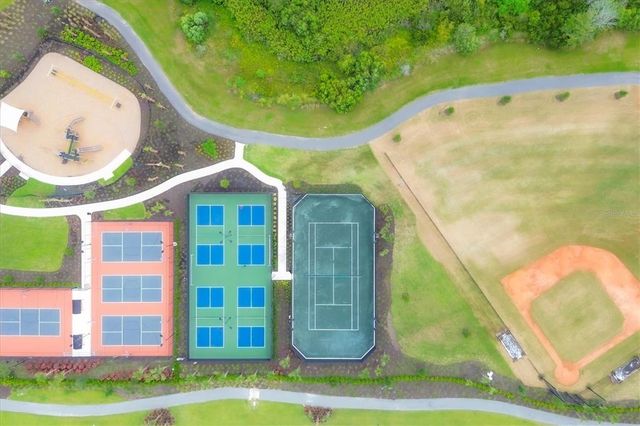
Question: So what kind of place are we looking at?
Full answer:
The area seen from above is a sports ground.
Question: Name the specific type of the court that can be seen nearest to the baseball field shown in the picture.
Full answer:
Specifically, the court that can be seen nearest to the baseball field is a tennis court.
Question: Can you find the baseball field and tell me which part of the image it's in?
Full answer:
You can find the baseball field in the right area of the picture.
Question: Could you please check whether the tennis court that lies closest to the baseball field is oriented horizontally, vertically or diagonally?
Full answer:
I'd say the tennis court that lies closest to the baseball field is aligned vertically in the picture.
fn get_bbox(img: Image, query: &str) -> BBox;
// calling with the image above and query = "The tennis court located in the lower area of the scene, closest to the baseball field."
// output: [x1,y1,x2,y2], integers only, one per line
[293,195,374,359]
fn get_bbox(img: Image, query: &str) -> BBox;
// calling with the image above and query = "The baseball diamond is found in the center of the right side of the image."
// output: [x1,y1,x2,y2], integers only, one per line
[370,84,640,400]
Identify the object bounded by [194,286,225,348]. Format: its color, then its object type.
blue sports court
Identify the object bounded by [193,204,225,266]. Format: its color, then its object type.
blue sports court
